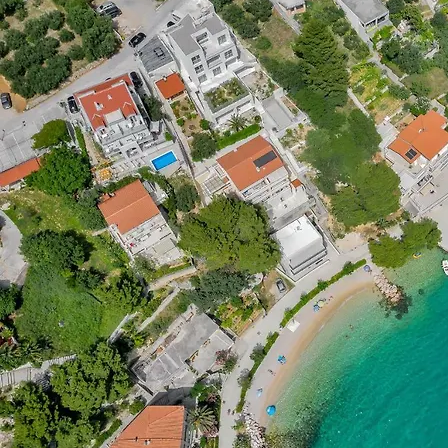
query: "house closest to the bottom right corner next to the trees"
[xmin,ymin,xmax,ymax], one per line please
[277,215,332,278]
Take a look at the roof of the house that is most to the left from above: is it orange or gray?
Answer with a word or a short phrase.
orange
